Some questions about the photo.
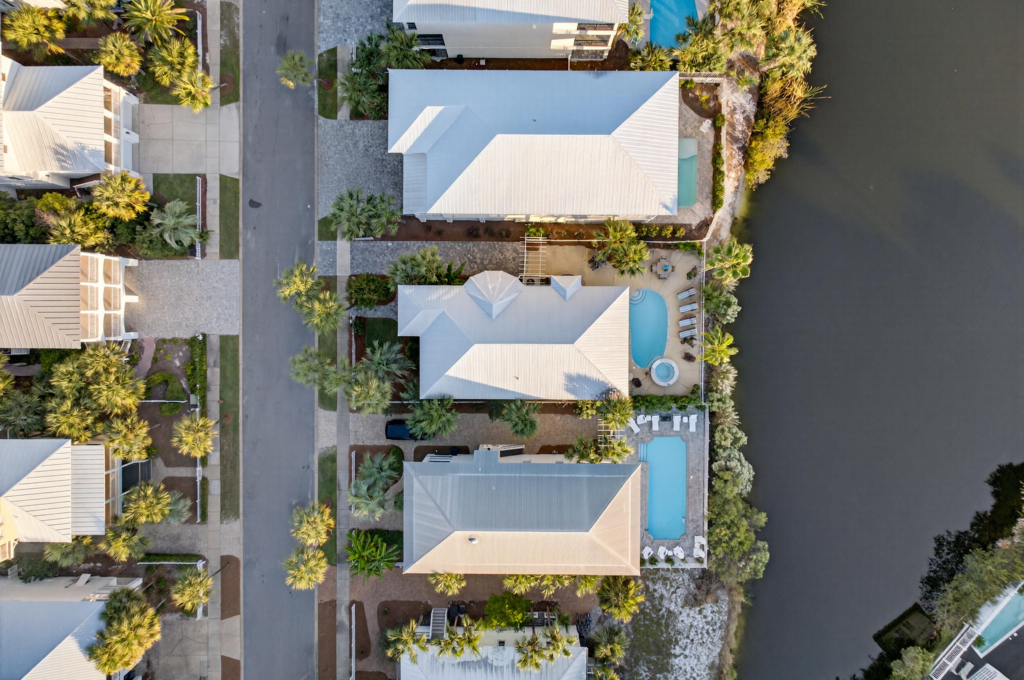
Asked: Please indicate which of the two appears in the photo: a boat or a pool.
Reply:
pool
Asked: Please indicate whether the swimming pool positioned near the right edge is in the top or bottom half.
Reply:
bottom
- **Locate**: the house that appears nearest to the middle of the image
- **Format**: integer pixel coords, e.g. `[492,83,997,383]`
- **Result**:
[397,270,630,400]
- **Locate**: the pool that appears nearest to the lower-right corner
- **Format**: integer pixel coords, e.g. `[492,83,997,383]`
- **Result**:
[980,585,1024,654]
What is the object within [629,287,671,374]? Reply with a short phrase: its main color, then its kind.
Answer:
blue swimming pool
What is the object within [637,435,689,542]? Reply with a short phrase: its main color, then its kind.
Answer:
blue swimming pool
